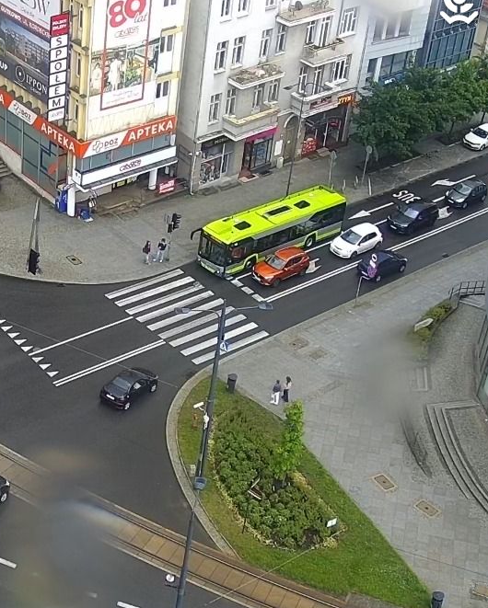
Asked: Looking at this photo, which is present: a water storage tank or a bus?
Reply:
bus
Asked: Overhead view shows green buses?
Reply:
Yes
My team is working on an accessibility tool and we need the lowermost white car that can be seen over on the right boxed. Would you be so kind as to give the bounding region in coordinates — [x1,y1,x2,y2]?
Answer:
[331,220,388,257]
